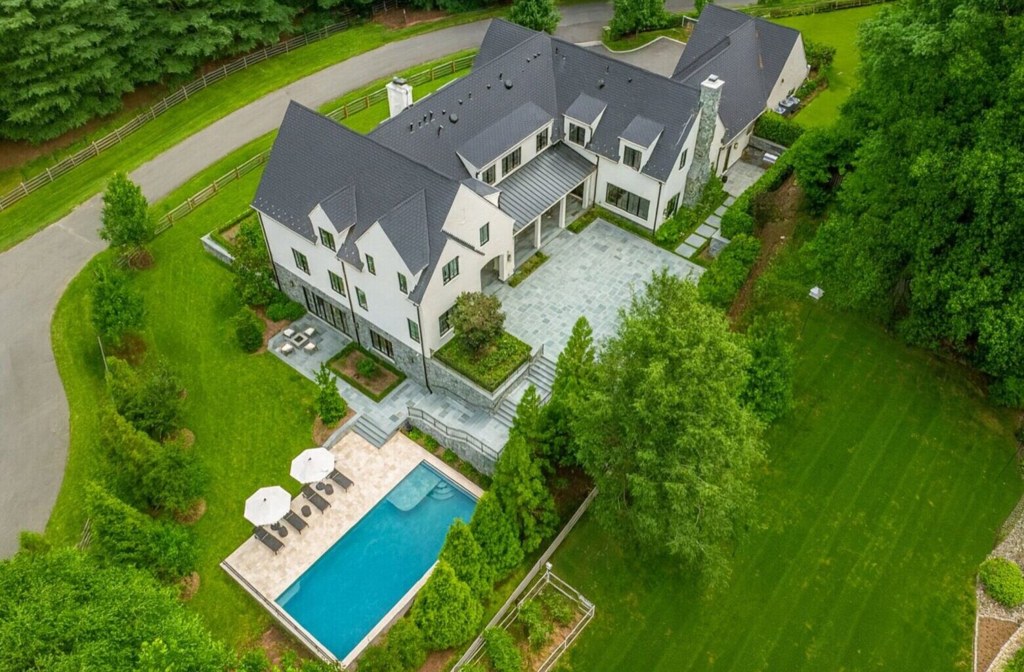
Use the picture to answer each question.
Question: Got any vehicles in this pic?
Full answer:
No, no vehicle is visible in the scene.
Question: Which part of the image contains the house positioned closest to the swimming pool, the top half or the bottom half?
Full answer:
Seen from above, the house positioned closest to the swimming pool lies in the top half of the view.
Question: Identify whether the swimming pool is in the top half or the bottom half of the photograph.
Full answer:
The bottom half of the photo is where the swimming pool is.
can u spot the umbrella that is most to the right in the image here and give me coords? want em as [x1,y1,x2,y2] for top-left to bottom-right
[287,448,334,496]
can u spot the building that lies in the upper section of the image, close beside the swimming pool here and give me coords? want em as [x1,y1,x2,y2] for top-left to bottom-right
[250,0,812,396]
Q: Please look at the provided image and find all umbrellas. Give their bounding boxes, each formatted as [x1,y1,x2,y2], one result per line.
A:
[241,486,291,536]
[287,448,334,496]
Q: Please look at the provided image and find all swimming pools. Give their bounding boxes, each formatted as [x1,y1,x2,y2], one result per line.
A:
[217,460,488,672]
